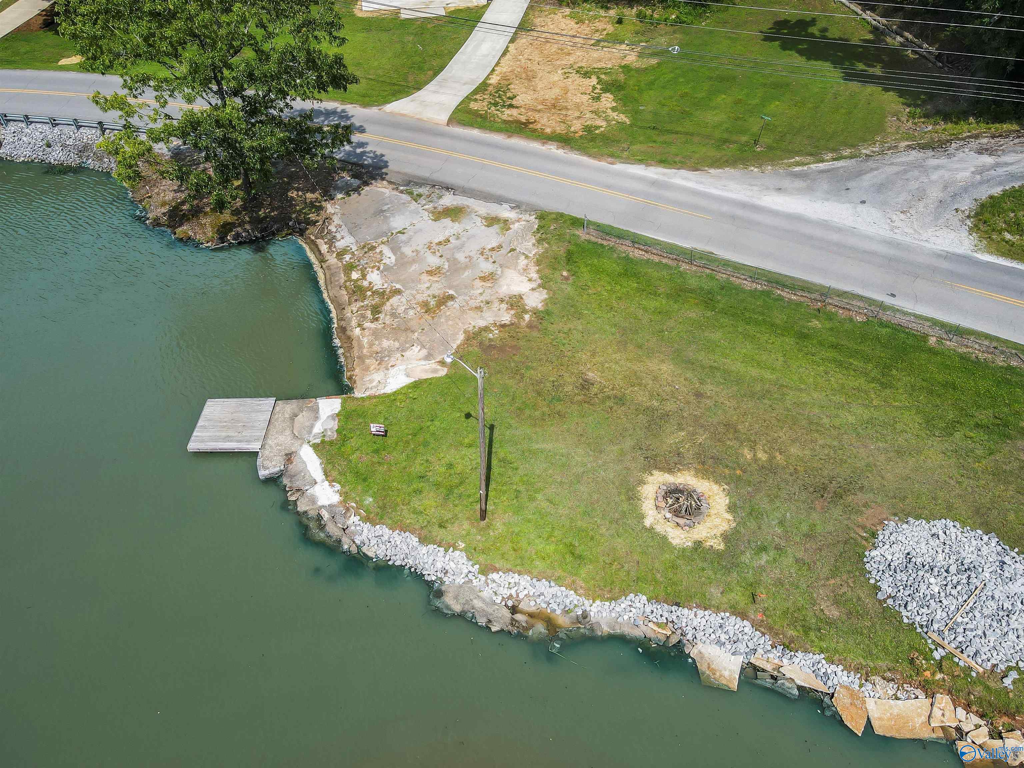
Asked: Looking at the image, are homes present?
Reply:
No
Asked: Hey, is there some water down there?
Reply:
Yes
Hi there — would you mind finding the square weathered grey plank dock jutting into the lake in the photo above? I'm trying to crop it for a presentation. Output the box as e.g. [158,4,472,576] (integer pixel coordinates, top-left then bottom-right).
[187,397,277,452]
